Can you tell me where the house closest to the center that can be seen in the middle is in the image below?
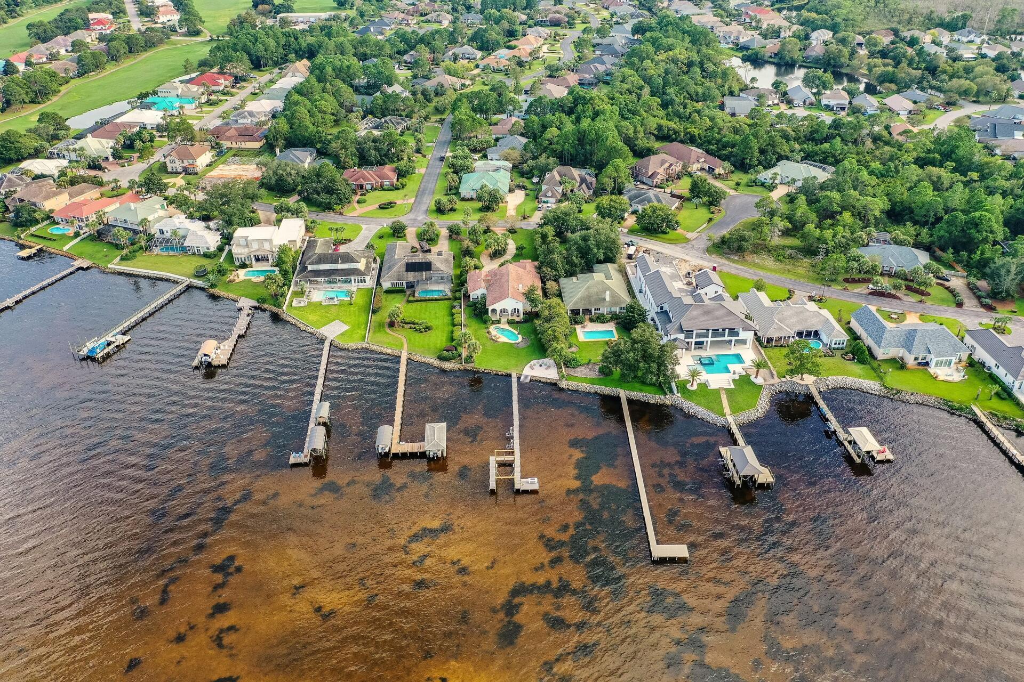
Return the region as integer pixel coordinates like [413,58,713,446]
[460,259,542,320]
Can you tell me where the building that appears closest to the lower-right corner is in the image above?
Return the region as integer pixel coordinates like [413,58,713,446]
[843,426,881,472]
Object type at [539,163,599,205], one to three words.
house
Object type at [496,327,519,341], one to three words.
swimming pool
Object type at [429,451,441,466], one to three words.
boat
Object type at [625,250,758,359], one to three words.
house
